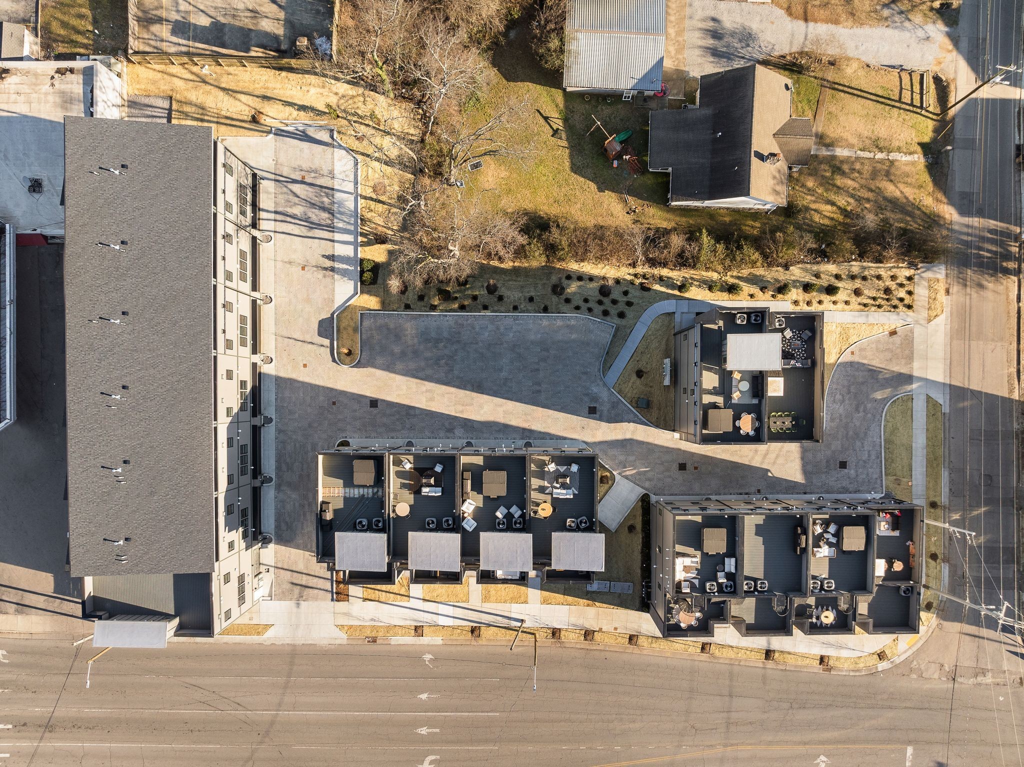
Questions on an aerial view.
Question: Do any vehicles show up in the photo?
No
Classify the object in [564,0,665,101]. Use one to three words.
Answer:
building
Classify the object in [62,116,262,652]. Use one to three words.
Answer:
building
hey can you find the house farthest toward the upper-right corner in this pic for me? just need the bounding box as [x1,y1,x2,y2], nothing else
[647,64,814,209]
